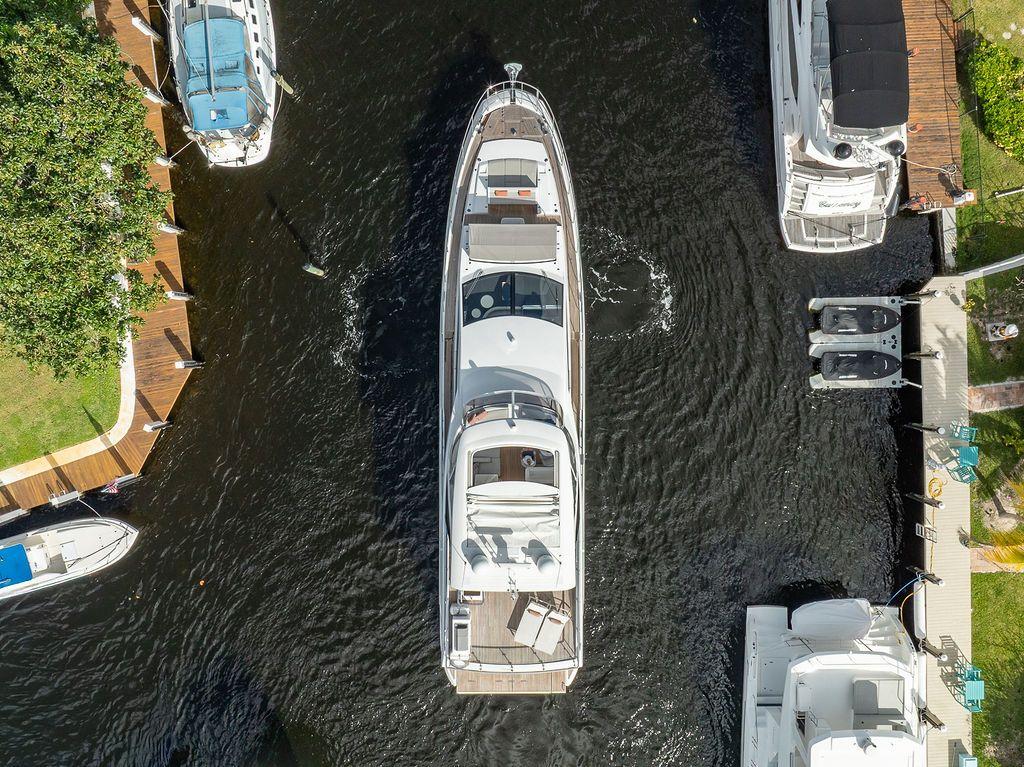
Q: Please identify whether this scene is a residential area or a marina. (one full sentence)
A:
This image shows a marina.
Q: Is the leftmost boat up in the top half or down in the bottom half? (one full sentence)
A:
You can find the leftmost boat in the bottom half.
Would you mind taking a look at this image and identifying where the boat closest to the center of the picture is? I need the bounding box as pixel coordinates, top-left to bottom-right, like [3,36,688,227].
[439,64,586,694]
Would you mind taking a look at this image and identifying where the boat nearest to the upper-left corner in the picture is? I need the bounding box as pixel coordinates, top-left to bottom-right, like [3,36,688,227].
[169,0,279,169]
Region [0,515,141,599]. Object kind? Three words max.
boat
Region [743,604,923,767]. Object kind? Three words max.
boat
